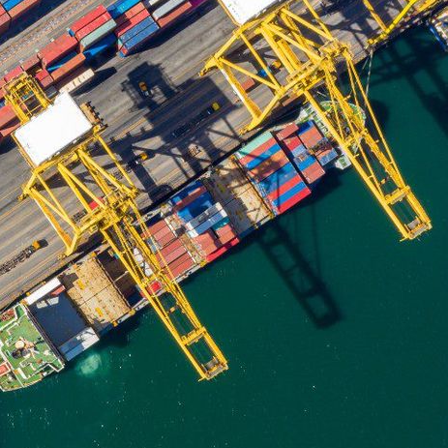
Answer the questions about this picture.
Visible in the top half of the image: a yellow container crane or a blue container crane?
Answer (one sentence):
Looking in the top half of the image, you will find a yellow container crane.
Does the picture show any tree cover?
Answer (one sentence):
No, no tree cover is visible.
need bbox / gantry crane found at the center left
[0,65,231,386]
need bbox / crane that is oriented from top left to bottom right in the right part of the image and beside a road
[188,0,433,245]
